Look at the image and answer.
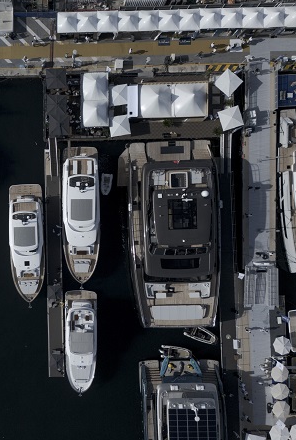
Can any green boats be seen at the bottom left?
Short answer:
No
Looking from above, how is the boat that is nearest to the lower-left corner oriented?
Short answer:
vertically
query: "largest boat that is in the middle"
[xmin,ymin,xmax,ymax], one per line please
[117,141,224,329]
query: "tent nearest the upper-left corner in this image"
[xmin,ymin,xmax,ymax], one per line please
[57,12,78,40]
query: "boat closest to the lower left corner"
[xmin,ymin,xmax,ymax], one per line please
[62,290,97,400]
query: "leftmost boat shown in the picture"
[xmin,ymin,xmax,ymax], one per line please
[9,184,45,310]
